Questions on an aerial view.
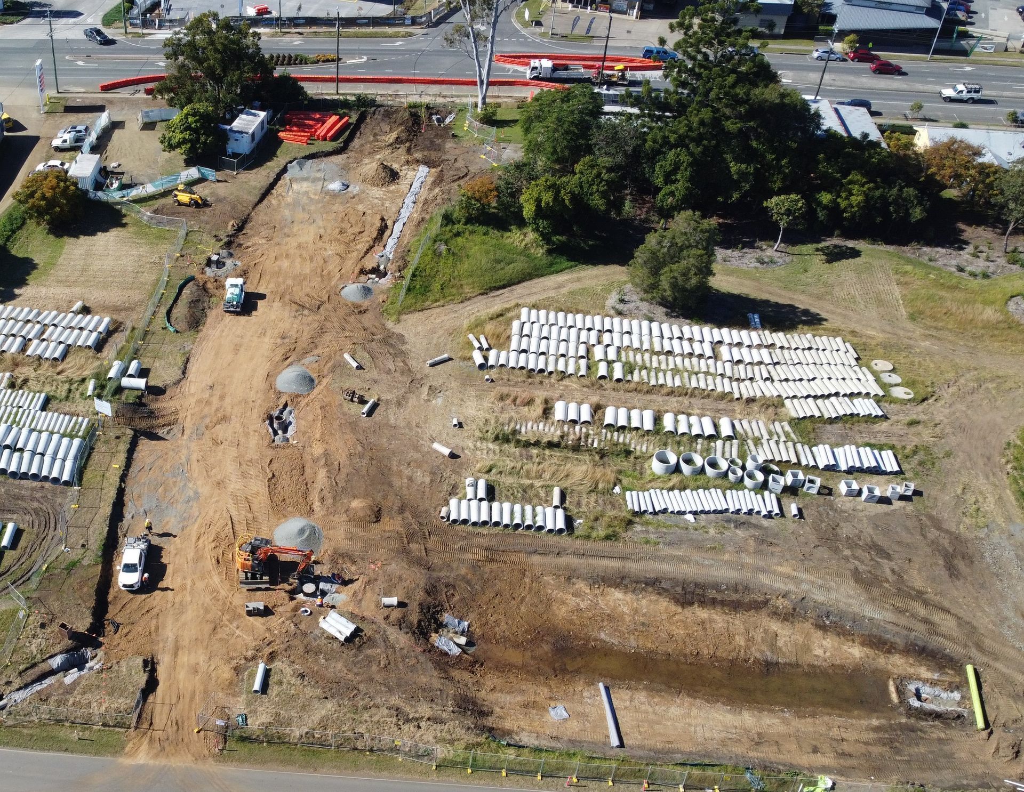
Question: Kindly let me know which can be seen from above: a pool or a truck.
truck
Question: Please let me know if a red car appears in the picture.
Yes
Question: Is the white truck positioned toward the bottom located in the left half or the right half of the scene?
left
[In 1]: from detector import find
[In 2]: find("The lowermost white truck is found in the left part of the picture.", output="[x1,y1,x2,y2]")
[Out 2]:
[113,521,149,585]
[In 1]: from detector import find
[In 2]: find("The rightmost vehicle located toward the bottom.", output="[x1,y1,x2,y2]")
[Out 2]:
[237,540,314,597]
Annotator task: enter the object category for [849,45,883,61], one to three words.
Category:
car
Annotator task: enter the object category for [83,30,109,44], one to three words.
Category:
vehicle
